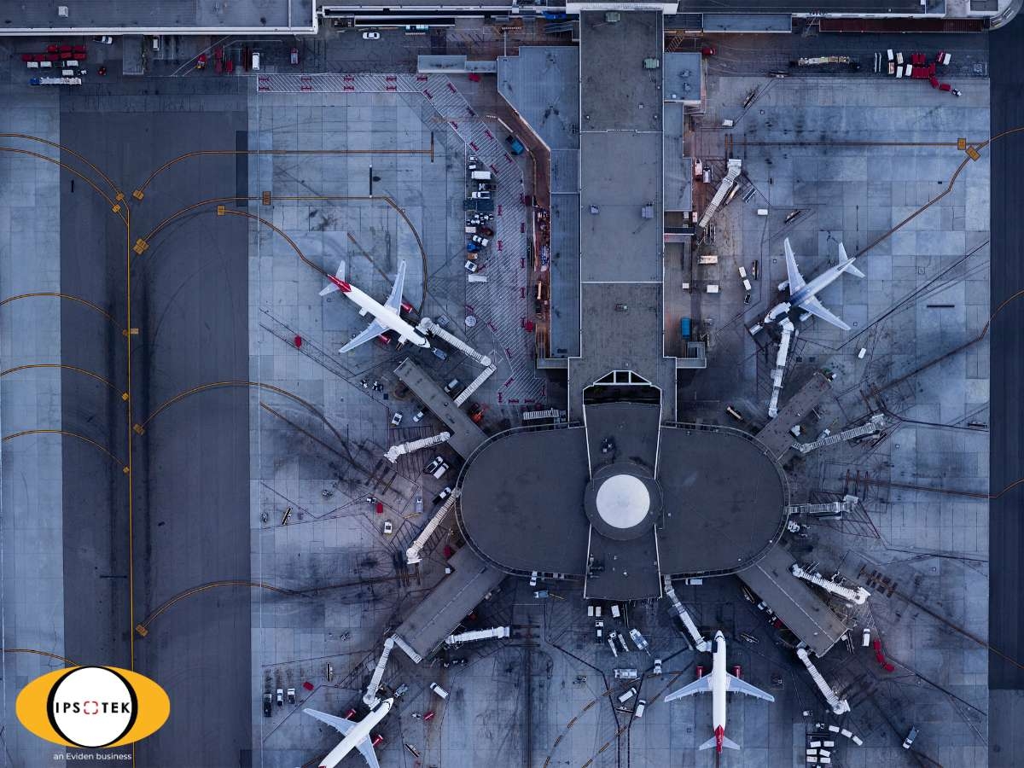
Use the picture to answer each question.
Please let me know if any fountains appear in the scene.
No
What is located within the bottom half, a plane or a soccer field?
plane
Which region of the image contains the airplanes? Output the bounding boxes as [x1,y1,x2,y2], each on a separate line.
[298,698,393,768]
[322,260,430,353]
[765,238,862,331]
[664,631,775,757]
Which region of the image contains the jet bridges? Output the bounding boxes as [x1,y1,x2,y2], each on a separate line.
[384,430,451,465]
[363,635,395,711]
[766,308,795,418]
[793,646,849,713]
[790,564,870,602]
[406,487,461,560]
[413,319,493,367]
[443,624,512,646]
[786,495,857,516]
[791,412,886,453]
[663,577,718,650]
[695,158,742,229]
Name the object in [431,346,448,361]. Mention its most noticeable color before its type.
blue work vehicle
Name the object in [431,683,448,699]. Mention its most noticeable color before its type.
white vehicle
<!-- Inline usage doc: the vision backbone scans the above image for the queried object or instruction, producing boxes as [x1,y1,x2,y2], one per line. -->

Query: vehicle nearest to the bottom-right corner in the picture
[905,727,919,748]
